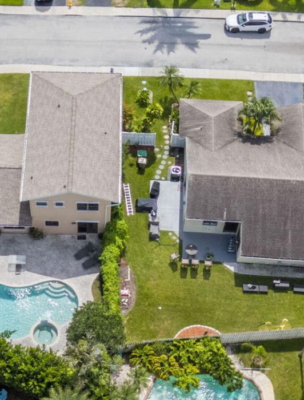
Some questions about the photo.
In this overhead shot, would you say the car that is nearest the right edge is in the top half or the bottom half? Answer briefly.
top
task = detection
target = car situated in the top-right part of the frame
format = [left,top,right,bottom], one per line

[223,11,274,35]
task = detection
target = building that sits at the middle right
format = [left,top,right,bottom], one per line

[179,99,304,270]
